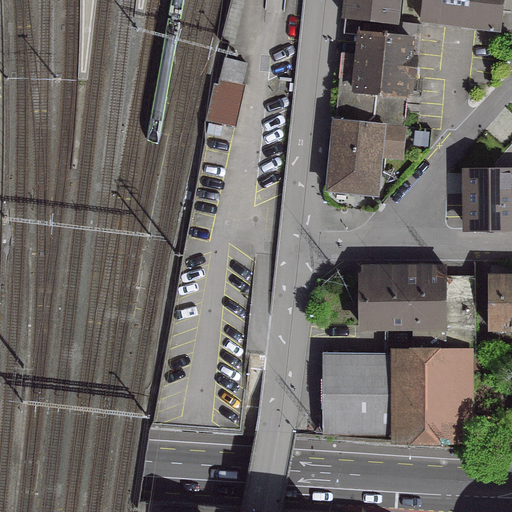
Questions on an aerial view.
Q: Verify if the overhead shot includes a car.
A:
Yes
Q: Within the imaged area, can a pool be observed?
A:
No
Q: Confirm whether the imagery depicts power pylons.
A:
Yes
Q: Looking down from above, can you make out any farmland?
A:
No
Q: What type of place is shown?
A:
residential area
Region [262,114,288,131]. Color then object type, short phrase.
white car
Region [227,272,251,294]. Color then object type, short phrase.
black car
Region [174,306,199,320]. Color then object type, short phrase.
white vehicle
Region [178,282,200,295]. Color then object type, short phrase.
white vehicle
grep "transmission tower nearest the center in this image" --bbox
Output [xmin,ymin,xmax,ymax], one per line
[321,269,354,304]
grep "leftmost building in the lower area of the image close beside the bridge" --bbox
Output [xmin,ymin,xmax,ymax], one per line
[321,352,390,438]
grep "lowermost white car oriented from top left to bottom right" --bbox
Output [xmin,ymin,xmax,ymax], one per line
[217,361,240,382]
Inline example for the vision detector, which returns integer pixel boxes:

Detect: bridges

[242,430,298,512]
